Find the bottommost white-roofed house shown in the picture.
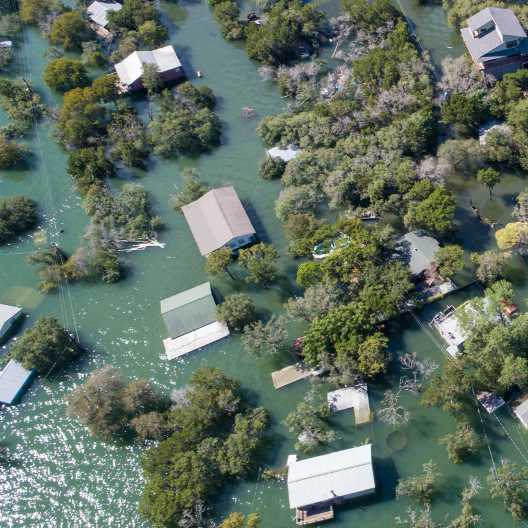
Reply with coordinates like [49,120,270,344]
[287,443,376,526]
